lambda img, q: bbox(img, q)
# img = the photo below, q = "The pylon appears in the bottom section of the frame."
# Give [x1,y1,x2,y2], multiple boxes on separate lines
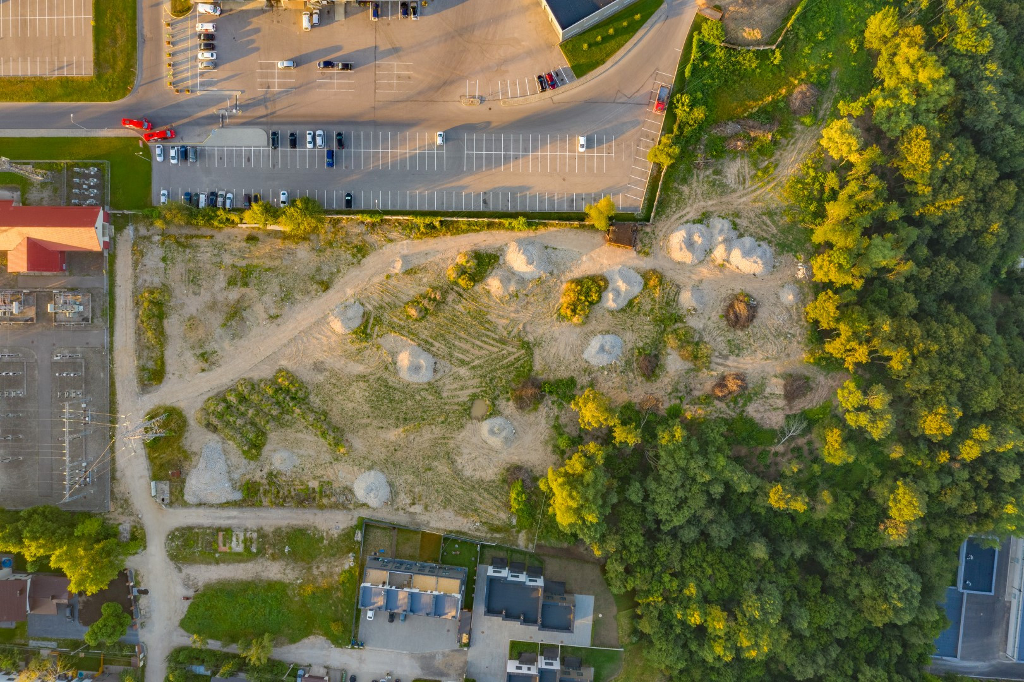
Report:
[106,408,175,452]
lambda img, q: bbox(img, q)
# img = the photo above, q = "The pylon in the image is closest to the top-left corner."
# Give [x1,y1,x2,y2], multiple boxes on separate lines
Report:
[0,147,53,184]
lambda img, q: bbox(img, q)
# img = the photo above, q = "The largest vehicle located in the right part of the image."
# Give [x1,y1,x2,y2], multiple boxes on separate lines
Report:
[653,81,671,116]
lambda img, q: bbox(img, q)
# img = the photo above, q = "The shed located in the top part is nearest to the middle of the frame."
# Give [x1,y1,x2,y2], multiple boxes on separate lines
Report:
[606,226,634,248]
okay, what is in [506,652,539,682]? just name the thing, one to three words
house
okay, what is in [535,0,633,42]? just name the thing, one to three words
building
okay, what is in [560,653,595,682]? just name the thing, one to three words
house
